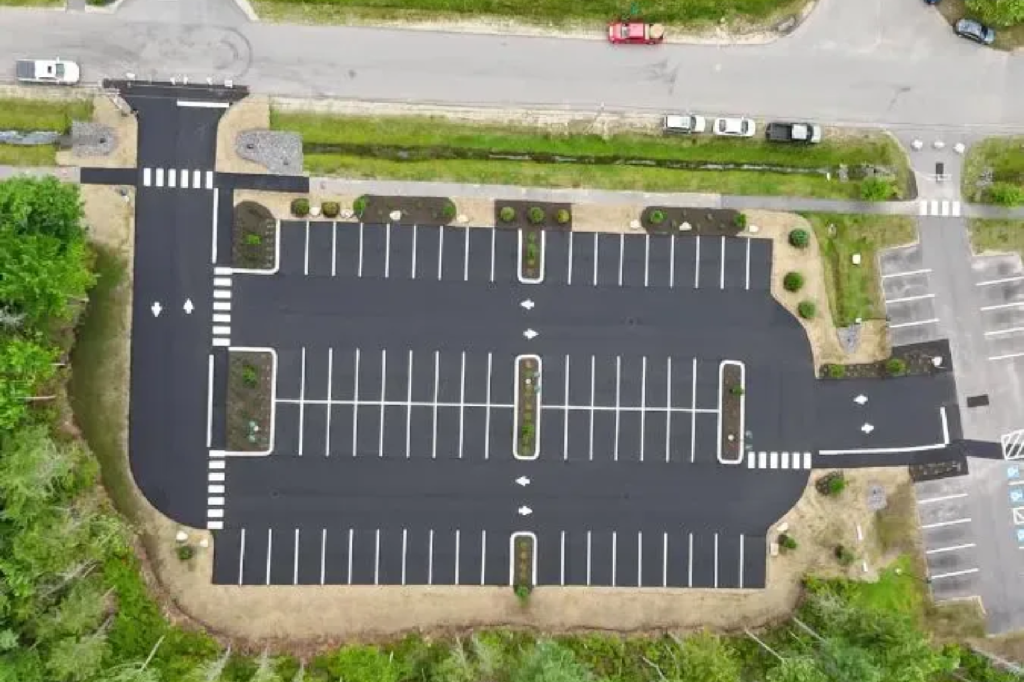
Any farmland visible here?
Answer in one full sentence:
No, farmland can't be seen anywhere here.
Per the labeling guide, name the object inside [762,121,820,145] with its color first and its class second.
gray truck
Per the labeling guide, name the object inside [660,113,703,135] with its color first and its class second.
white car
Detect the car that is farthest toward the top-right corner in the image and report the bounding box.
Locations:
[949,15,994,47]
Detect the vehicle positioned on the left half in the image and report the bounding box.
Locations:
[15,58,82,85]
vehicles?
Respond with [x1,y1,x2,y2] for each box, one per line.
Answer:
[15,58,82,85]
[949,15,994,47]
[660,113,703,135]
[762,121,820,145]
[712,115,754,137]
[607,19,662,46]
